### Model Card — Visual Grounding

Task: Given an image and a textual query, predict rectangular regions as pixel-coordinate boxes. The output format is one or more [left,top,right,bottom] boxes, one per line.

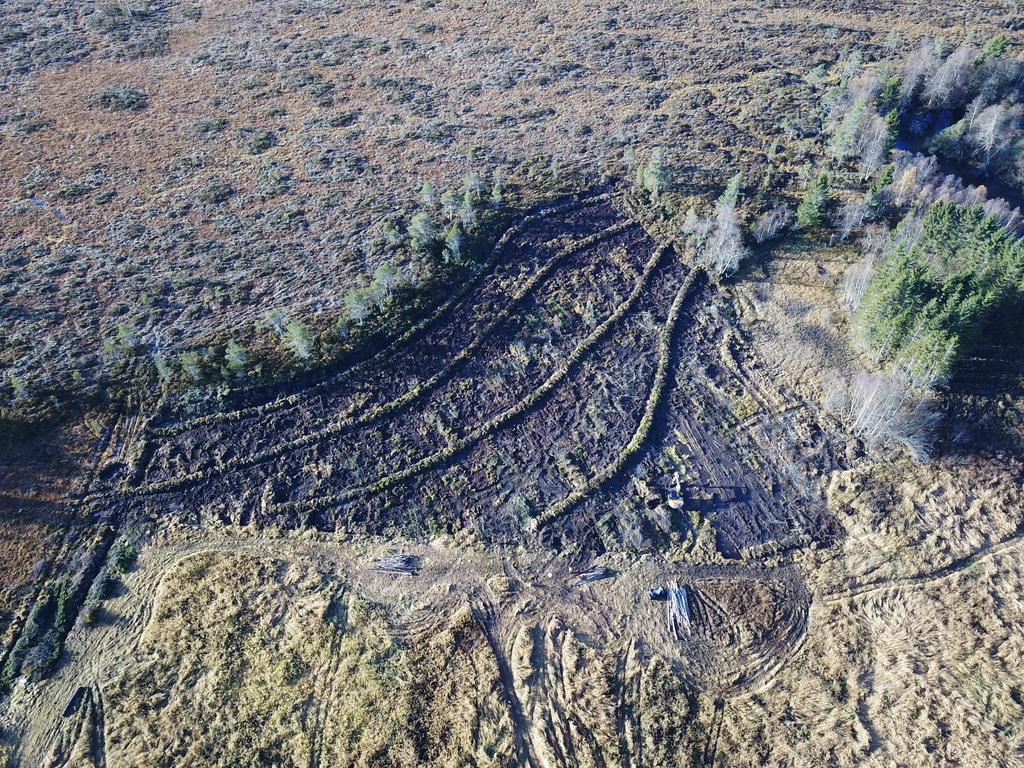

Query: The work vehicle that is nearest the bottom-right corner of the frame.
[644,587,667,604]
